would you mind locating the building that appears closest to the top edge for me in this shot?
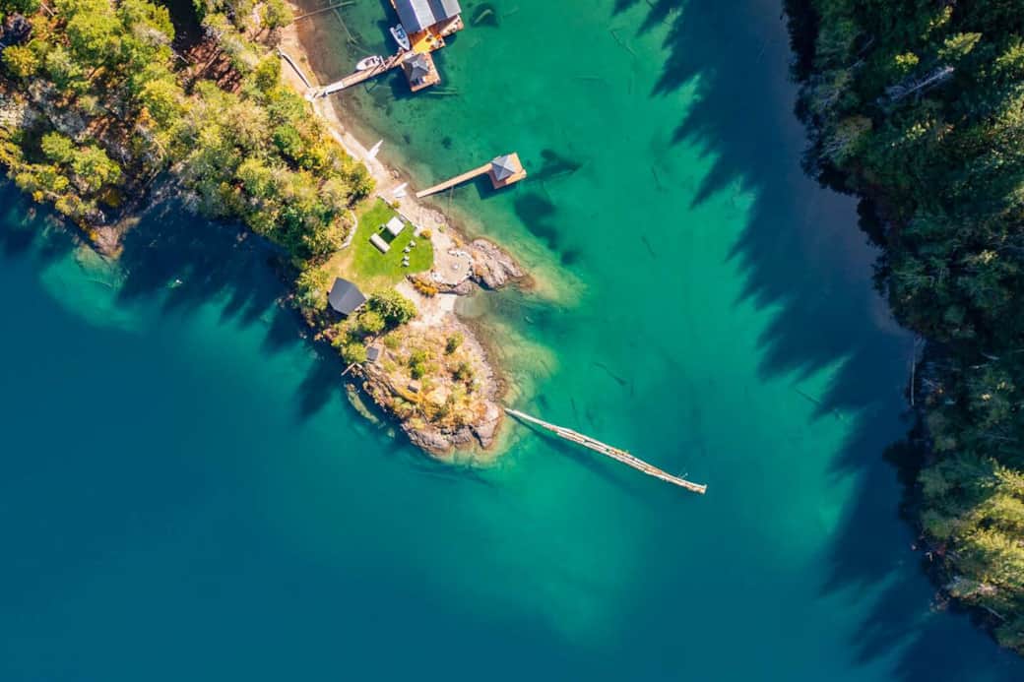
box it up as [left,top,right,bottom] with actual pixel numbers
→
[389,0,464,53]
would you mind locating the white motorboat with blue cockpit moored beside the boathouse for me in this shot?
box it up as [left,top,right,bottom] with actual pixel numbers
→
[391,24,409,50]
